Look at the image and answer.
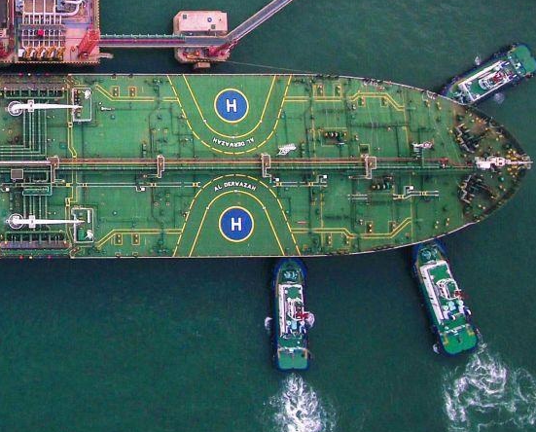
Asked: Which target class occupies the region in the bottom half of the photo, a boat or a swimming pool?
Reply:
boat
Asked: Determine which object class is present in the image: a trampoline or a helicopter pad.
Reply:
helicopter pad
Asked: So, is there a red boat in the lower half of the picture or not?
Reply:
No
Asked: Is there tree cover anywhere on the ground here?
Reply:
No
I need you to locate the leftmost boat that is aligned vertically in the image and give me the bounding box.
[269,256,318,372]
